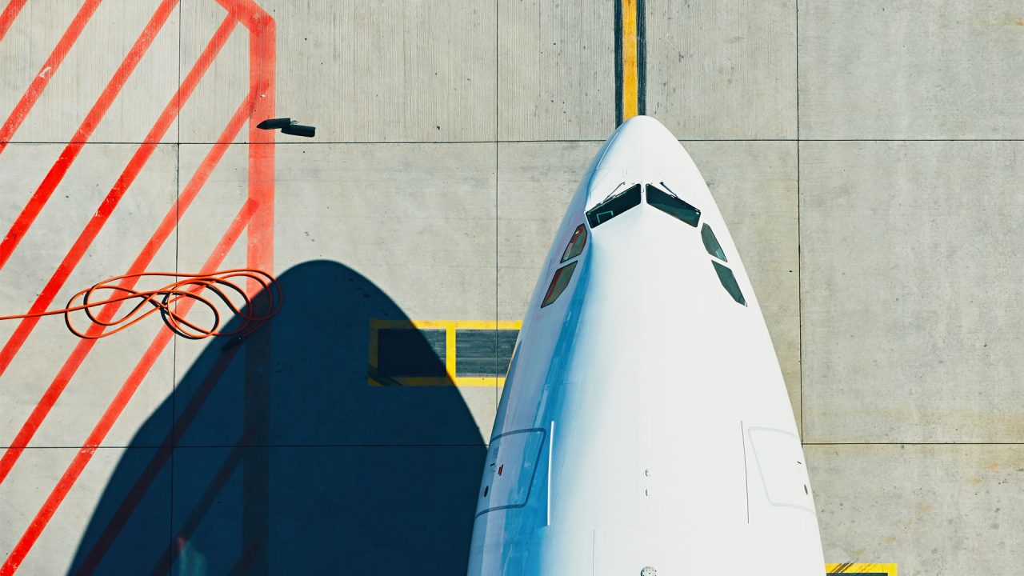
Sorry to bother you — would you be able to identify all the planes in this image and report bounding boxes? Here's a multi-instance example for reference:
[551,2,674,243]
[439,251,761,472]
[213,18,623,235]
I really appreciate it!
[466,115,827,576]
